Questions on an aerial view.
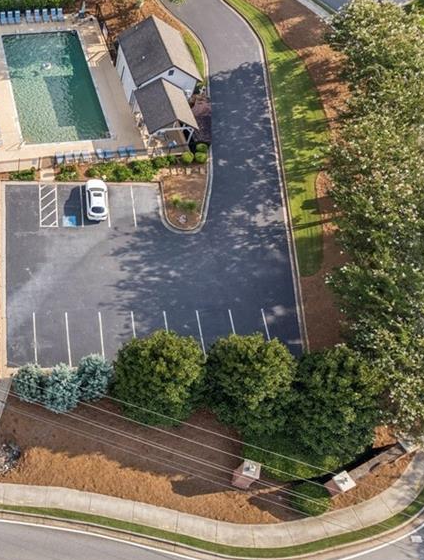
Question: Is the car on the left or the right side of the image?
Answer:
left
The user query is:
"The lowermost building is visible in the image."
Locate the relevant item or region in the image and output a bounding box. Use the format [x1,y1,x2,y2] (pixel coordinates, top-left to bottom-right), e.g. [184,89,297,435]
[135,74,199,146]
